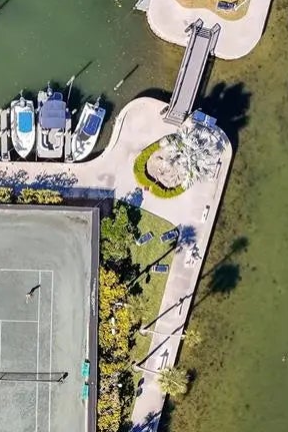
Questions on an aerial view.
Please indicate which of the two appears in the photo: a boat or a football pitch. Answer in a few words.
boat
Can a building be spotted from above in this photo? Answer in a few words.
No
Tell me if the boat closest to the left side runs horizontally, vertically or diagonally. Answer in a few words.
vertically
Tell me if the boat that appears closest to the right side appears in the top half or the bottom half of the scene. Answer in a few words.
top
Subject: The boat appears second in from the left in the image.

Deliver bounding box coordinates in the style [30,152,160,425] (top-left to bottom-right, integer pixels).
[39,92,68,160]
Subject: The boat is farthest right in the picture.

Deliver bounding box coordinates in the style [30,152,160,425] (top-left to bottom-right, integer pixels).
[74,97,104,160]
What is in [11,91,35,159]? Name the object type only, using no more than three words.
boat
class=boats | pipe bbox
[74,97,104,160]
[11,91,35,159]
[39,92,68,160]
